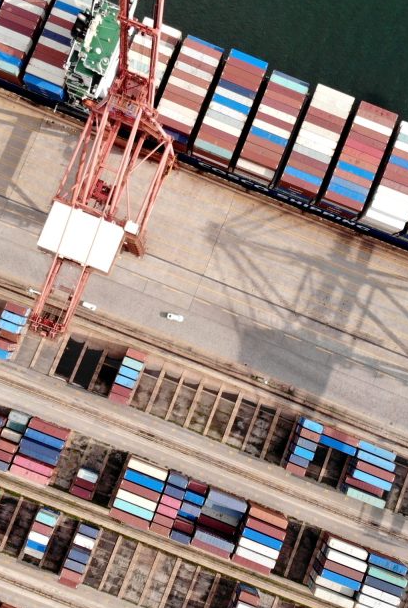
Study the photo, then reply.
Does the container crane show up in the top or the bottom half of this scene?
top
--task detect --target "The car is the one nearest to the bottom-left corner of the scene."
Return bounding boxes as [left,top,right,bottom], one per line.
[81,301,97,313]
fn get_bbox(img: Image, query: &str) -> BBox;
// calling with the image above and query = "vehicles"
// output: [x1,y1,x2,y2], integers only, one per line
[81,301,97,313]
[167,312,184,323]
